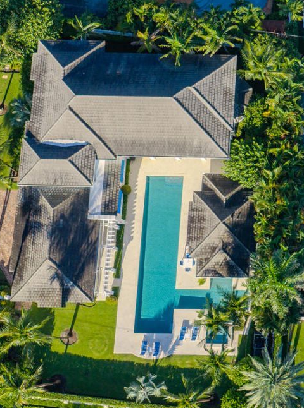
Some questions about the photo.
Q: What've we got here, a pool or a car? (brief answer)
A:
pool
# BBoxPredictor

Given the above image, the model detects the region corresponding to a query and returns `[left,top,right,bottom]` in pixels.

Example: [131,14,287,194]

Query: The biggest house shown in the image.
[8,39,240,308]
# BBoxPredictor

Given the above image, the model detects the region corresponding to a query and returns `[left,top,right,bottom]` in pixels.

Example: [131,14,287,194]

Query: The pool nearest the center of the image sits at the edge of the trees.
[131,174,249,337]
